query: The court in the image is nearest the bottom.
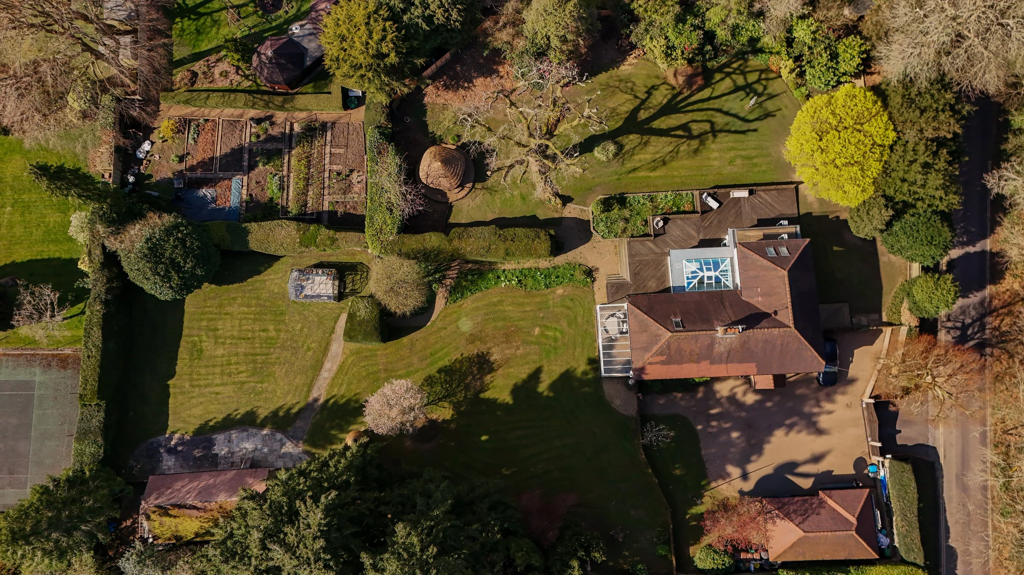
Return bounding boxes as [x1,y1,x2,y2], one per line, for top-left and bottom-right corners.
[0,354,81,484]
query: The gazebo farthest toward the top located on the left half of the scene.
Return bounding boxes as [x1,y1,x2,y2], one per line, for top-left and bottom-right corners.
[252,36,315,96]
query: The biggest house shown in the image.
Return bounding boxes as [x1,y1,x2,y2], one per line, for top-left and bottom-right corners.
[625,224,826,389]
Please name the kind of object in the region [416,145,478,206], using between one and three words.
shed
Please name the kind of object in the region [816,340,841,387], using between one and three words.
car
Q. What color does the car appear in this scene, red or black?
black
